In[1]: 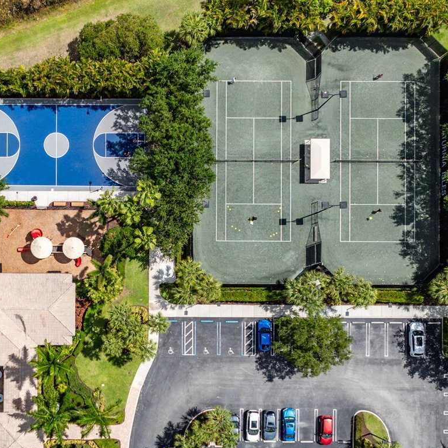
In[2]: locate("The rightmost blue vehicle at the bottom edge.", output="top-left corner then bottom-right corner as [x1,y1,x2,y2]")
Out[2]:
[279,408,296,441]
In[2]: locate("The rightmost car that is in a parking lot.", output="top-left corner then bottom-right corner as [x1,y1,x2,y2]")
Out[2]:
[408,322,425,357]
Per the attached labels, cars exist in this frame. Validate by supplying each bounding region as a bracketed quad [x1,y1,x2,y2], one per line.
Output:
[225,410,240,438]
[262,409,277,440]
[408,322,425,357]
[245,409,260,441]
[257,319,271,351]
[279,408,296,441]
[318,414,333,445]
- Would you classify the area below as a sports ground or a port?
sports ground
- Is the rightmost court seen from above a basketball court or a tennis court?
tennis court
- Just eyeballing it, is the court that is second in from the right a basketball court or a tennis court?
tennis court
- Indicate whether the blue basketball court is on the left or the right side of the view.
left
